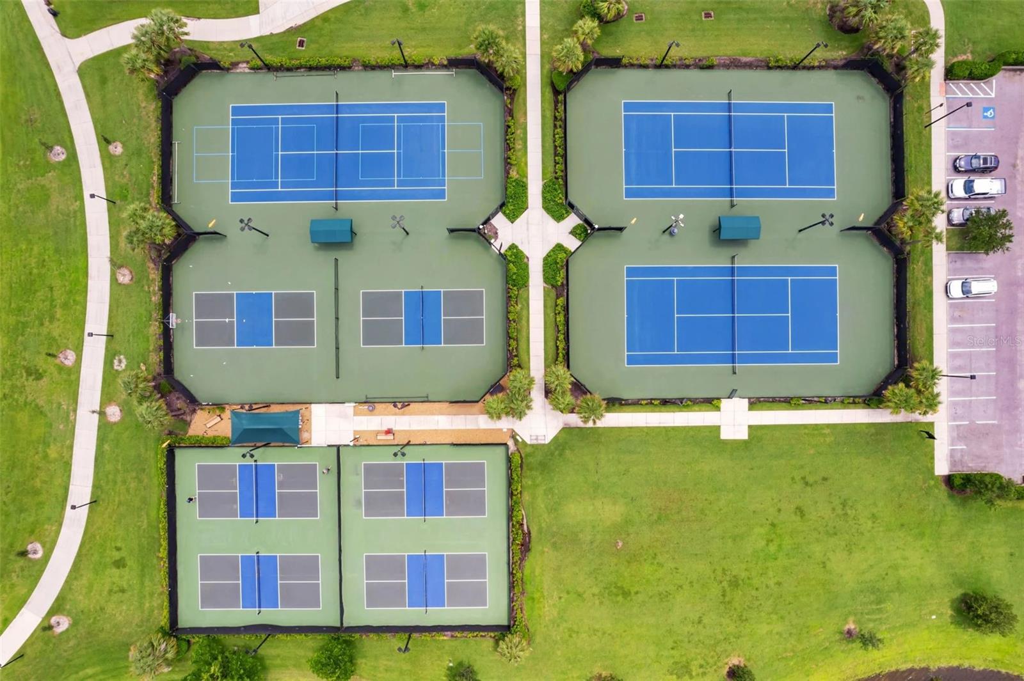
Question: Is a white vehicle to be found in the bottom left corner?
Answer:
No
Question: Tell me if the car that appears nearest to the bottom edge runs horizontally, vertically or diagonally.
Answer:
horizontally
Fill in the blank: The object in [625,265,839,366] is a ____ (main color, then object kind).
blue tennis court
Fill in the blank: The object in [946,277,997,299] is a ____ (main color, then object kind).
white car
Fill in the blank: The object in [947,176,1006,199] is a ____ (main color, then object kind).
white truck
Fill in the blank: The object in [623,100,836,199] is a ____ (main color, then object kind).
blue tennis court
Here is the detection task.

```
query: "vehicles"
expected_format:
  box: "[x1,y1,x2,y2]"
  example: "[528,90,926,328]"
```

[947,202,990,224]
[946,277,997,299]
[947,176,1006,199]
[952,152,1000,174]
